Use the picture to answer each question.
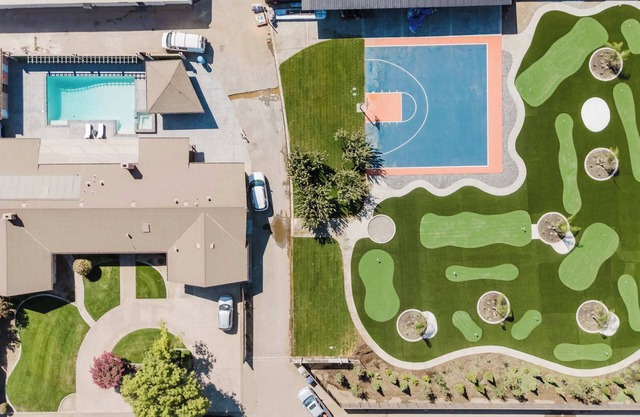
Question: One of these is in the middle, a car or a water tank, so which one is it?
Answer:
car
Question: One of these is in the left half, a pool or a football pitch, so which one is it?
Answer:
pool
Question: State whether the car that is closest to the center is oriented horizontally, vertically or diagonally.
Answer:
vertically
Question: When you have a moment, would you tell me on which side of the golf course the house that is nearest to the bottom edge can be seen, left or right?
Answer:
to its left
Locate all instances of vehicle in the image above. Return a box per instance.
[162,31,209,54]
[296,387,328,417]
[248,171,269,212]
[344,9,359,19]
[216,294,234,330]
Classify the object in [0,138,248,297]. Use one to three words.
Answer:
house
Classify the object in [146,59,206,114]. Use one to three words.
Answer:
building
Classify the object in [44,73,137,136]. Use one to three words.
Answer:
swimming pool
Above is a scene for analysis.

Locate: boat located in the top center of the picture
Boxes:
[276,8,334,25]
